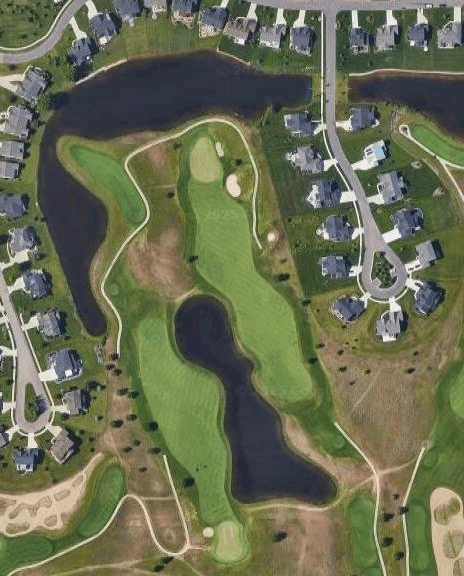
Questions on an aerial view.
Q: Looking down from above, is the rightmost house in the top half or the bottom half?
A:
top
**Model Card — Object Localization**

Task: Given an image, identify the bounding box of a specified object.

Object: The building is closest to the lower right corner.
[374,310,407,342]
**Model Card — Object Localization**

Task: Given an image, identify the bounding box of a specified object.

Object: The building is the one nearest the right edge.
[432,18,464,52]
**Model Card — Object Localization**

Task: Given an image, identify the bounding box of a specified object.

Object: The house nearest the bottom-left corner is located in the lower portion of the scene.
[12,443,41,474]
